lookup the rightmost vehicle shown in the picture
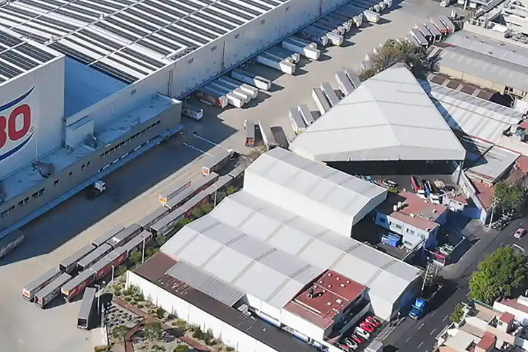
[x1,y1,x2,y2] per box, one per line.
[511,226,528,239]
